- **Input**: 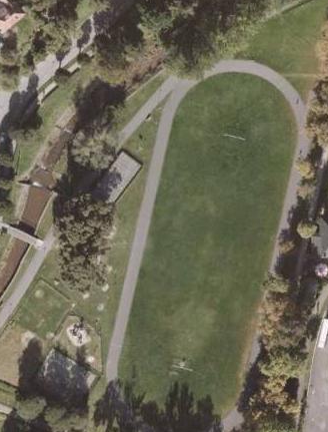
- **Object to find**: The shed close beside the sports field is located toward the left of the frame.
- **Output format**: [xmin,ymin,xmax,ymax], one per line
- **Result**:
[94,152,142,203]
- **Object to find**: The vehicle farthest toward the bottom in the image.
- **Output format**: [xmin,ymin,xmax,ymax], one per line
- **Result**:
[315,319,328,348]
